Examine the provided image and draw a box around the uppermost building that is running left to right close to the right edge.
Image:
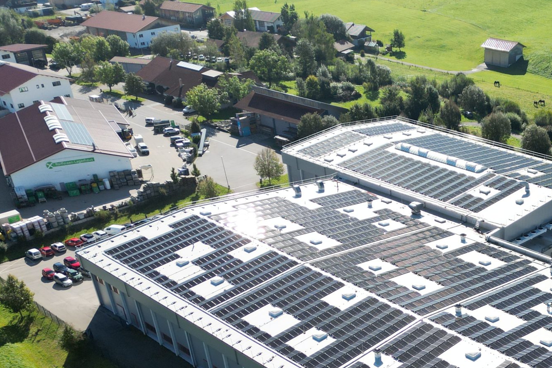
[481,38,544,67]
